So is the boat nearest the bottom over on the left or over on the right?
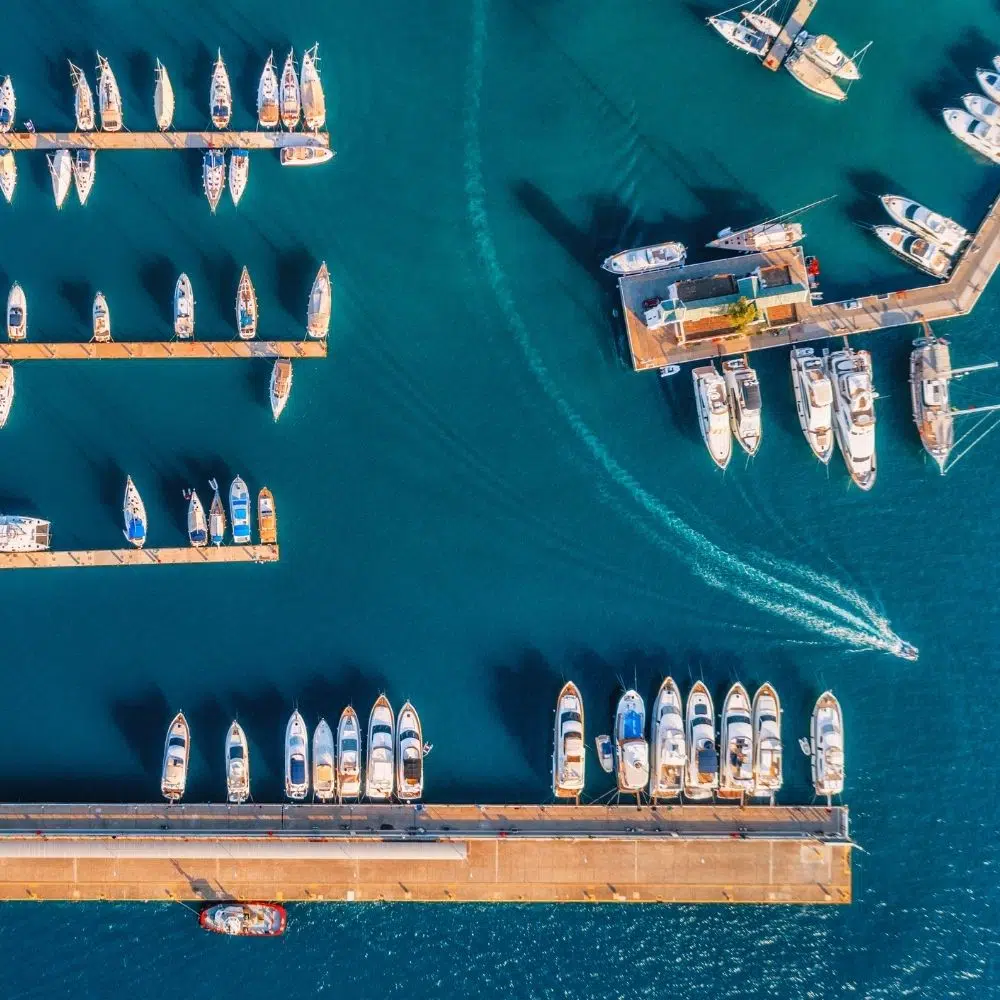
left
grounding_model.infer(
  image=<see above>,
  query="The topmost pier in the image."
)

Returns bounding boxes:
[761,0,816,72]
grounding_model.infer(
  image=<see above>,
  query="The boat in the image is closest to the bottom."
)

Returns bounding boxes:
[174,898,290,938]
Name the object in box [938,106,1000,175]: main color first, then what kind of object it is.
white boat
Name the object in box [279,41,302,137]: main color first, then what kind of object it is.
white boat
